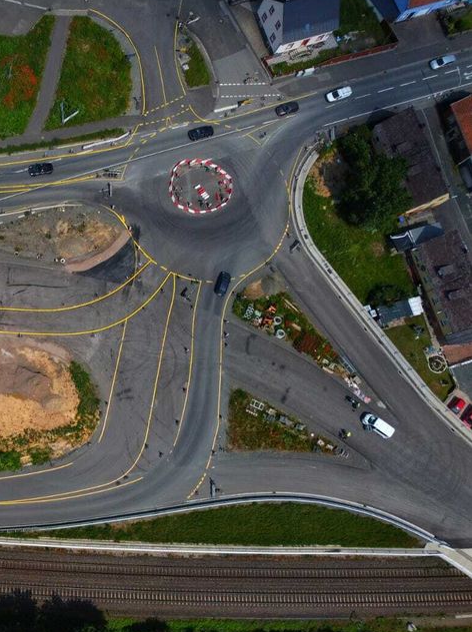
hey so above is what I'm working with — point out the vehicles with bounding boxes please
[427,53,458,69]
[186,125,216,140]
[358,415,395,439]
[27,162,53,176]
[449,396,468,416]
[325,84,353,102]
[215,270,230,296]
[461,408,472,431]
[273,100,300,117]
